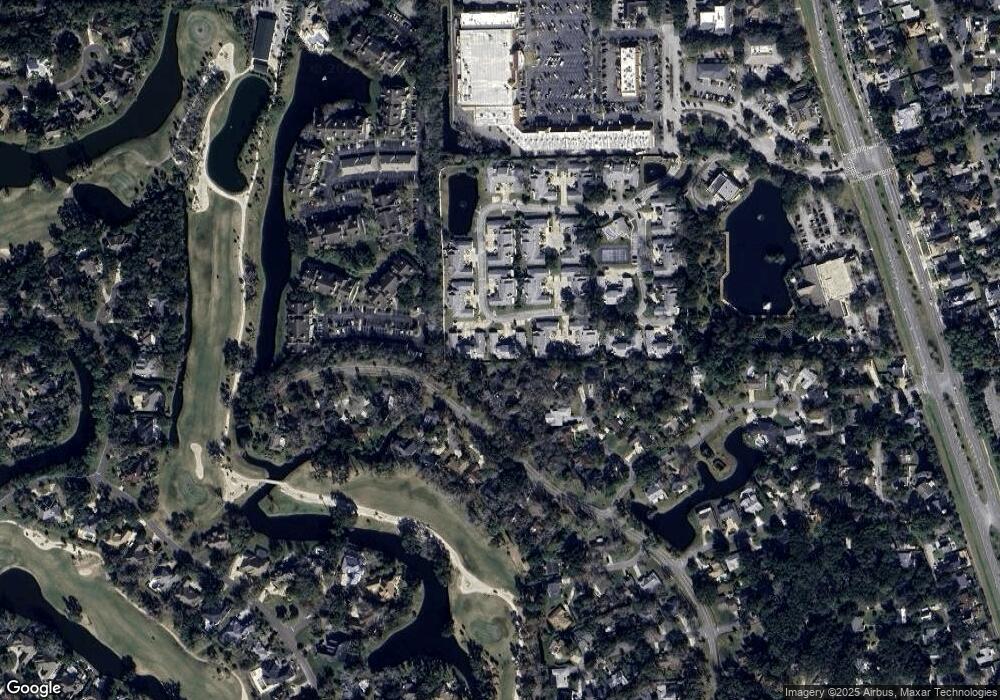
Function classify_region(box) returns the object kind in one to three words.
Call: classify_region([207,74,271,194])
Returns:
pond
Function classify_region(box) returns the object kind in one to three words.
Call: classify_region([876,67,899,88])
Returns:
house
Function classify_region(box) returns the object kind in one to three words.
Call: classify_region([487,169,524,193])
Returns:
house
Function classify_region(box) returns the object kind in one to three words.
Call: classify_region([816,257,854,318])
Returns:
building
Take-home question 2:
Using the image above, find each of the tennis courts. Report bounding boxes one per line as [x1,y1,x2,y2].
[598,246,631,264]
